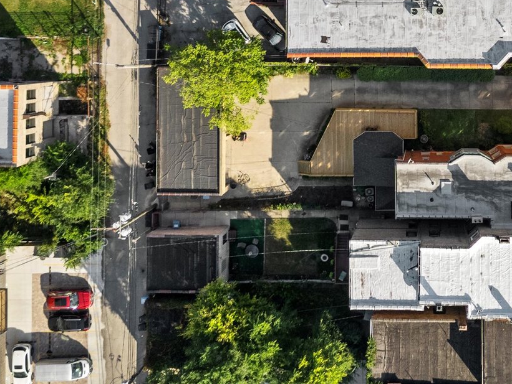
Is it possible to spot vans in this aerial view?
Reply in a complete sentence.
Yes, the frame does contain a van.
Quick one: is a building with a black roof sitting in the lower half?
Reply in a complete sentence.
Yes, the scene does show a building with a black roof in the lower half.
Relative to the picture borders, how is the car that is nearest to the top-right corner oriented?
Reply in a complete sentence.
The car that is nearest to the top-right corner is laid out at an angle.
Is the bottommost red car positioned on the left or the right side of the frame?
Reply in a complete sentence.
The bottommost red car appears in the left half of the scene.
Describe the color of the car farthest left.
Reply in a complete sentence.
The car farthest left is white.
